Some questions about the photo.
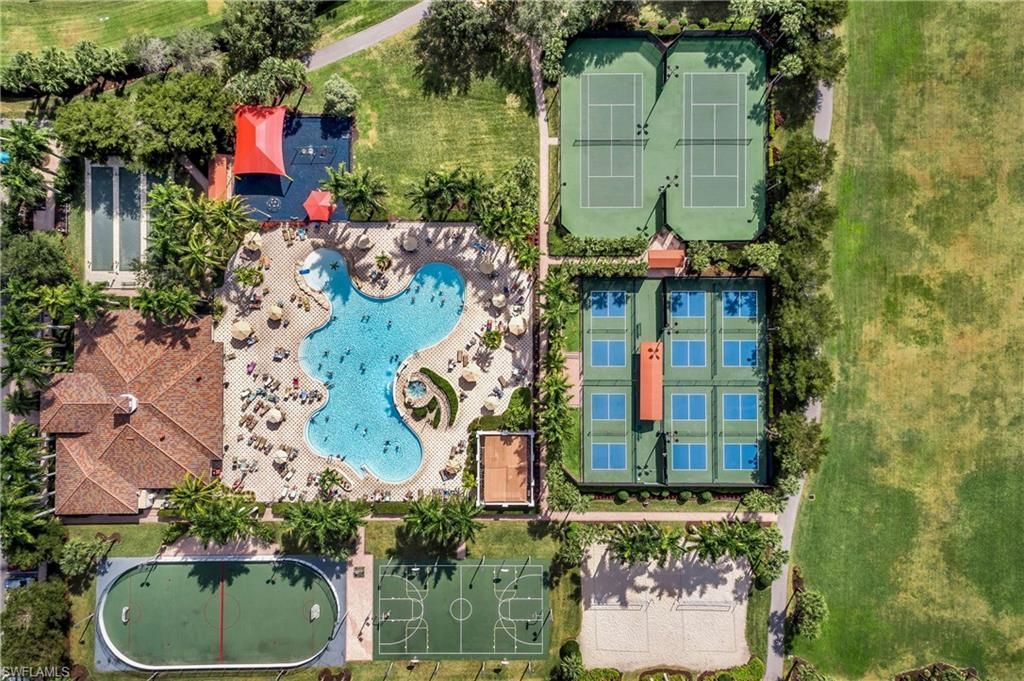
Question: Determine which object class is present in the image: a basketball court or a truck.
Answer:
basketball court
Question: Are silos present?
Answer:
No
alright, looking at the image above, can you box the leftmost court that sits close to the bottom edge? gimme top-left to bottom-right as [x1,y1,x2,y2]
[97,561,338,668]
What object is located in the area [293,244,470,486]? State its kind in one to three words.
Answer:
swimming pool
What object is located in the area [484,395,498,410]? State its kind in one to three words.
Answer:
umbrella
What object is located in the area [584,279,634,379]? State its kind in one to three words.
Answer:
sports court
